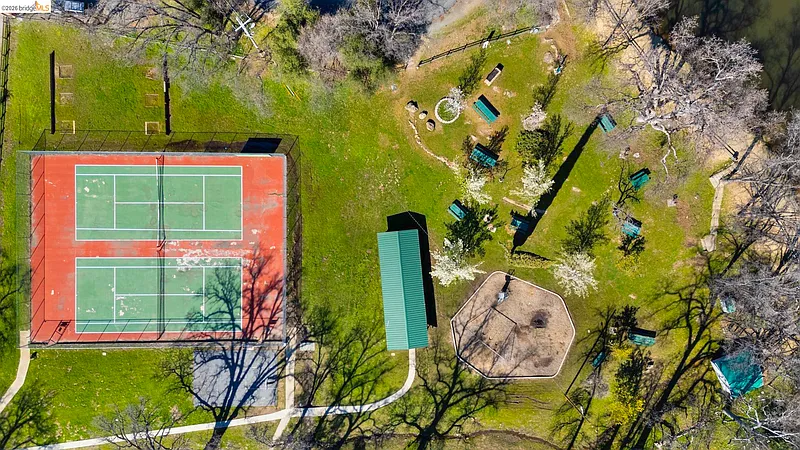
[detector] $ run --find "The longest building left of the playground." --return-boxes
[377,230,427,352]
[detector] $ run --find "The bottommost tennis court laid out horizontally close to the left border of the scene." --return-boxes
[31,249,282,344]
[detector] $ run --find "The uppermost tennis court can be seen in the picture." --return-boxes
[31,154,282,249]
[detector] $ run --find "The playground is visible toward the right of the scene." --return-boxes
[452,272,574,379]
